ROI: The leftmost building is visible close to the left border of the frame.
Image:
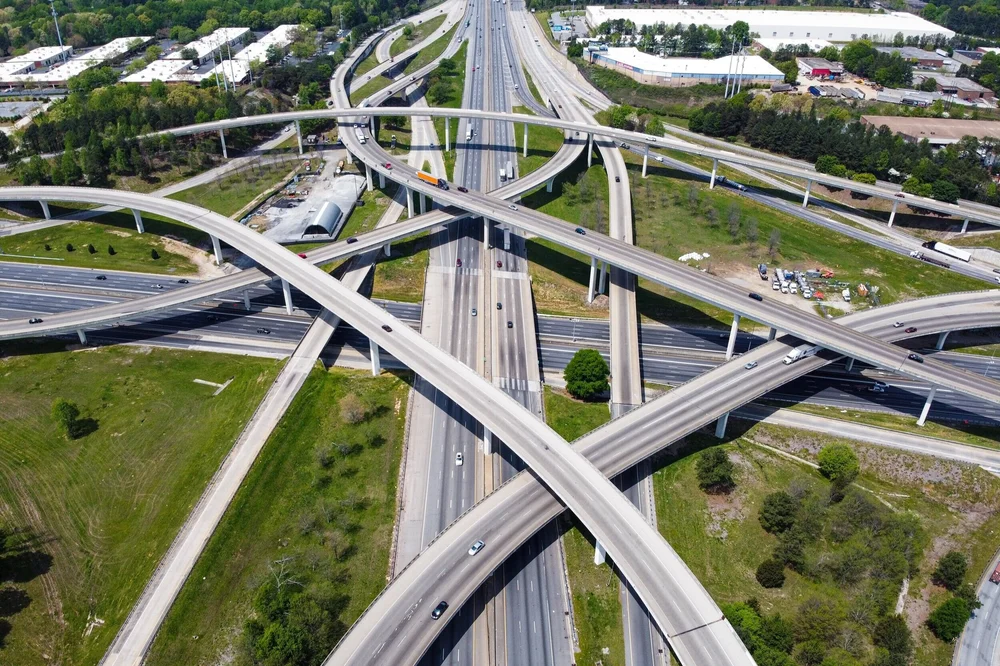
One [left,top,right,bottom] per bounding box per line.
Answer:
[0,46,73,74]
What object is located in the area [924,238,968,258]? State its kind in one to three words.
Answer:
vehicle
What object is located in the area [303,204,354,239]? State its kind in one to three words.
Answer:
shed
